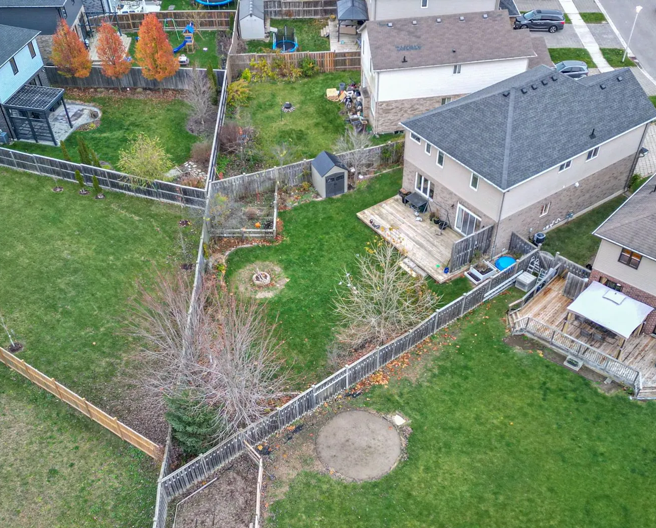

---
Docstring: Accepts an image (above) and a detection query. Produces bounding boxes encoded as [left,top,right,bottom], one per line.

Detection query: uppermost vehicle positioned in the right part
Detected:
[511,6,561,32]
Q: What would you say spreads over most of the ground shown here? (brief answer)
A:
grass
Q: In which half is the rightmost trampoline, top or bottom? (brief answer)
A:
top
